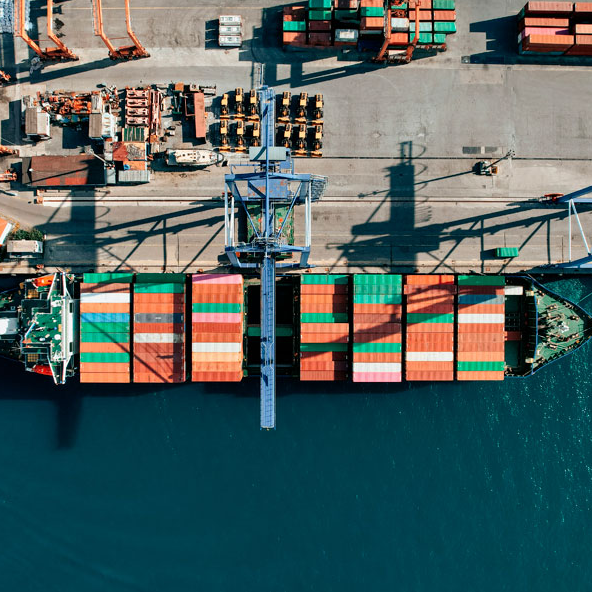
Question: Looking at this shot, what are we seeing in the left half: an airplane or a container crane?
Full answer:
Looking in the left half, you will find a container crane.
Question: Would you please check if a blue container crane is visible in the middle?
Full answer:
Yes, there is a blue container crane in the middle.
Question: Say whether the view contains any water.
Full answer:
Yes, there's water in this view.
